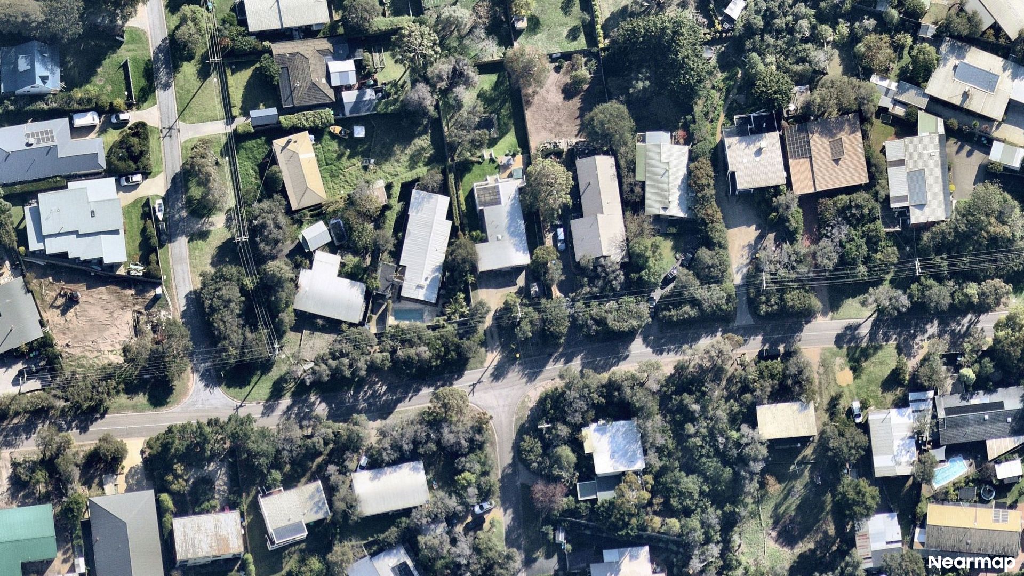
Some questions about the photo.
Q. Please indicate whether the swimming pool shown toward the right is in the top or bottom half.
bottom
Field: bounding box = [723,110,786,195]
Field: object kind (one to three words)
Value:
house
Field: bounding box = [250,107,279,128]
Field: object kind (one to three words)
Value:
shed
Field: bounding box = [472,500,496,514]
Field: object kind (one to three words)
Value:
car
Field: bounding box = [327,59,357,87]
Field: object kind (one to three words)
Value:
building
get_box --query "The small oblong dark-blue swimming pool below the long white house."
[392,307,425,323]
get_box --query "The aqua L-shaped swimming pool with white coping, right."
[932,455,970,490]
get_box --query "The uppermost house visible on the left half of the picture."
[234,0,329,39]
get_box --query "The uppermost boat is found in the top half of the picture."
[328,126,349,139]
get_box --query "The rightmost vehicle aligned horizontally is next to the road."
[758,347,783,359]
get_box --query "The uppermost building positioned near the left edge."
[0,40,65,100]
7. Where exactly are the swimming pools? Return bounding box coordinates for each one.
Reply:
[932,455,970,490]
[392,307,425,323]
